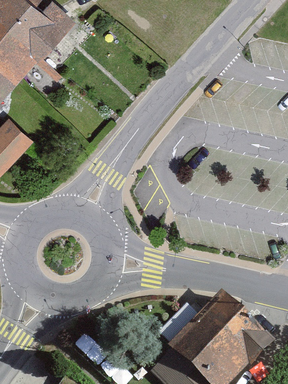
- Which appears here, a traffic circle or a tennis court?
traffic circle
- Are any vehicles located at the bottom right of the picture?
Yes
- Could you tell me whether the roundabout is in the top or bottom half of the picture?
bottom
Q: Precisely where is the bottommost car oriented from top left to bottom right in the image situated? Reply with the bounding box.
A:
[256,313,276,333]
